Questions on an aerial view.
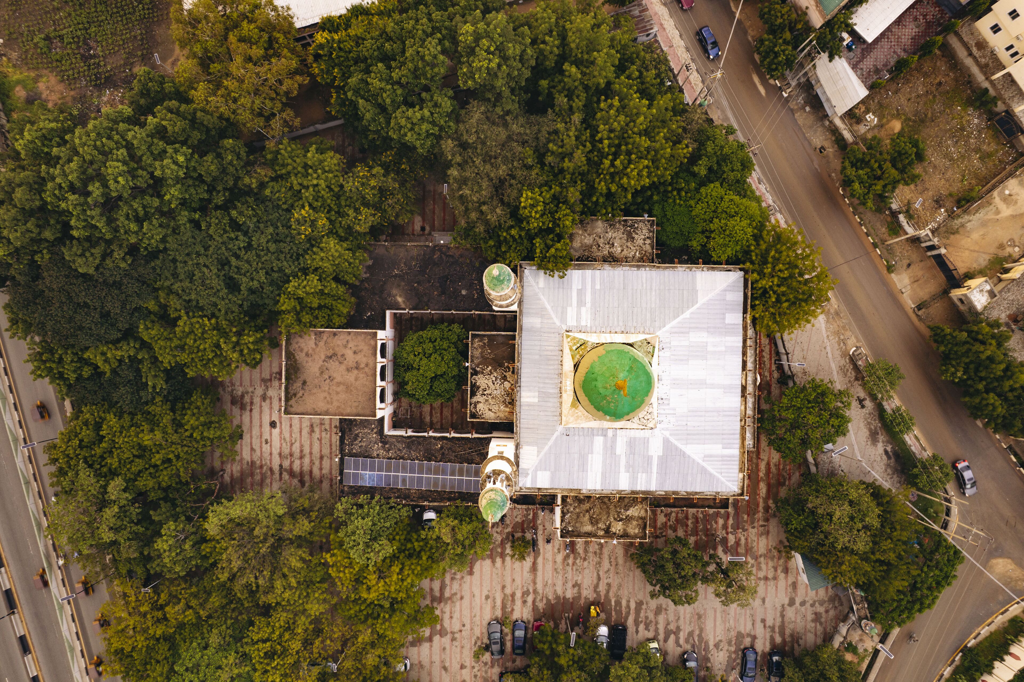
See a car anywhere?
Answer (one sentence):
Yes, there's a car down there.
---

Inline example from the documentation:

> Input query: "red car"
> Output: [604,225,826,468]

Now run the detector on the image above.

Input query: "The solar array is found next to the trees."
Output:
[342,454,483,494]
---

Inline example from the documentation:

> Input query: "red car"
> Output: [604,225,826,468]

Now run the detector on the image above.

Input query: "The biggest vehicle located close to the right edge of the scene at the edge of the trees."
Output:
[952,457,977,496]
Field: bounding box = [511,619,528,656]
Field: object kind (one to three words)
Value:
car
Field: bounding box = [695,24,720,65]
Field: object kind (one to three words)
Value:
car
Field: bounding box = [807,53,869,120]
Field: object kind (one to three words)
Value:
shed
